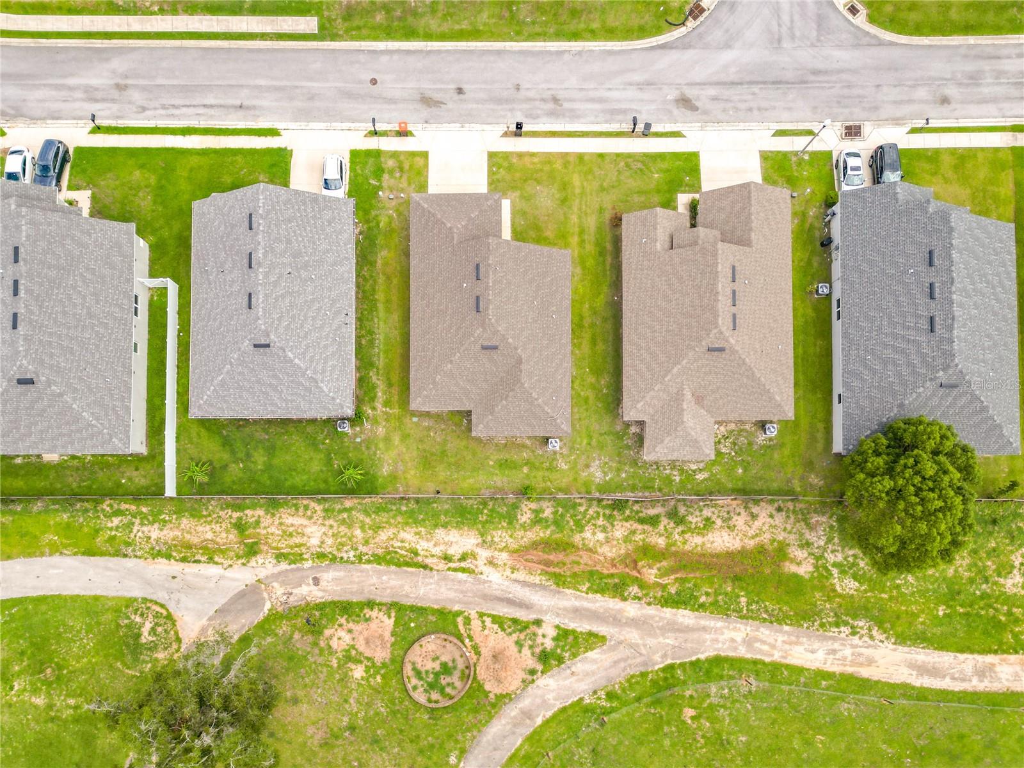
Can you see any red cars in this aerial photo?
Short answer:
No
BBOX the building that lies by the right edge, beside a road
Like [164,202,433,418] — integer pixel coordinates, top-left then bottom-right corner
[829,181,1021,456]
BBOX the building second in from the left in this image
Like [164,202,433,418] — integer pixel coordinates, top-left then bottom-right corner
[187,183,357,420]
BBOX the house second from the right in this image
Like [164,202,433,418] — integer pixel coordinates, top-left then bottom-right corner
[622,183,795,461]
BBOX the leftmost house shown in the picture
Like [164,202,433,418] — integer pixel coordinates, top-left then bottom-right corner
[0,180,148,455]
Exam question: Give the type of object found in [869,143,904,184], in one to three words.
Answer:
car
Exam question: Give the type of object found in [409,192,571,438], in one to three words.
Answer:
house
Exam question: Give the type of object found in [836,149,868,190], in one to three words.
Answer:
car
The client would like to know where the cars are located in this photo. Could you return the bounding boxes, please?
[869,143,904,184]
[836,149,868,190]
[322,153,350,198]
[31,139,72,195]
[1,146,36,184]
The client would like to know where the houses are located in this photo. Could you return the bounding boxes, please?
[409,192,571,438]
[187,183,357,420]
[622,183,795,461]
[829,181,1021,456]
[0,180,148,455]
